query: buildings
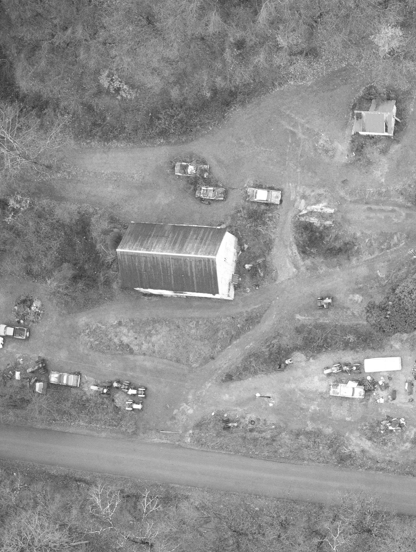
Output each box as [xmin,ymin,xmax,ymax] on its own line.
[353,99,400,138]
[116,223,251,298]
